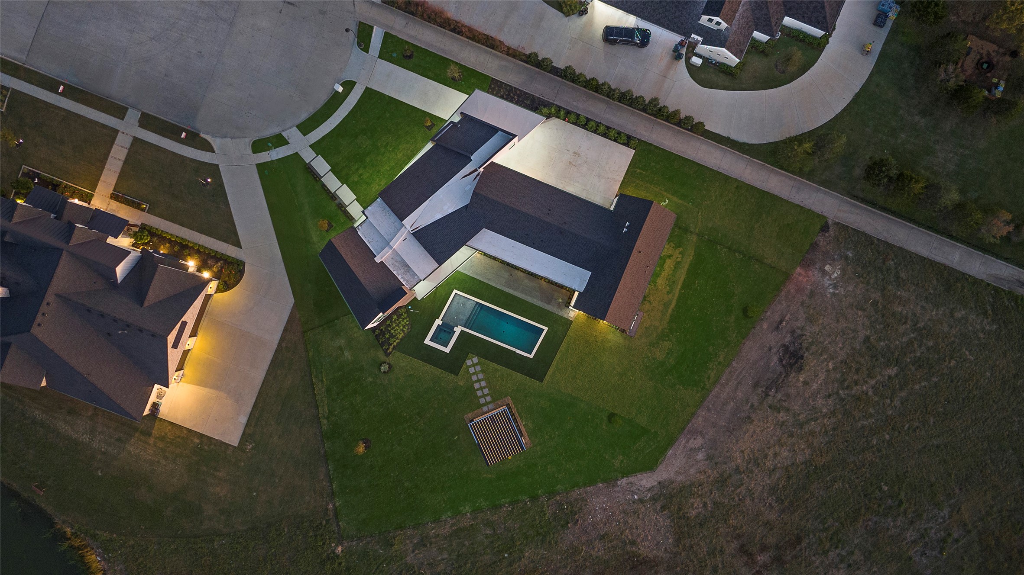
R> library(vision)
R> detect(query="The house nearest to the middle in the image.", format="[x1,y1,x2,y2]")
[319,89,677,330]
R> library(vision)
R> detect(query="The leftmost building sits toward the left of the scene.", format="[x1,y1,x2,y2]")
[0,186,229,423]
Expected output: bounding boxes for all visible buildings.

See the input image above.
[319,89,677,330]
[598,0,845,67]
[0,186,229,423]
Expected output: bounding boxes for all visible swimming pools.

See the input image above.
[424,290,548,358]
